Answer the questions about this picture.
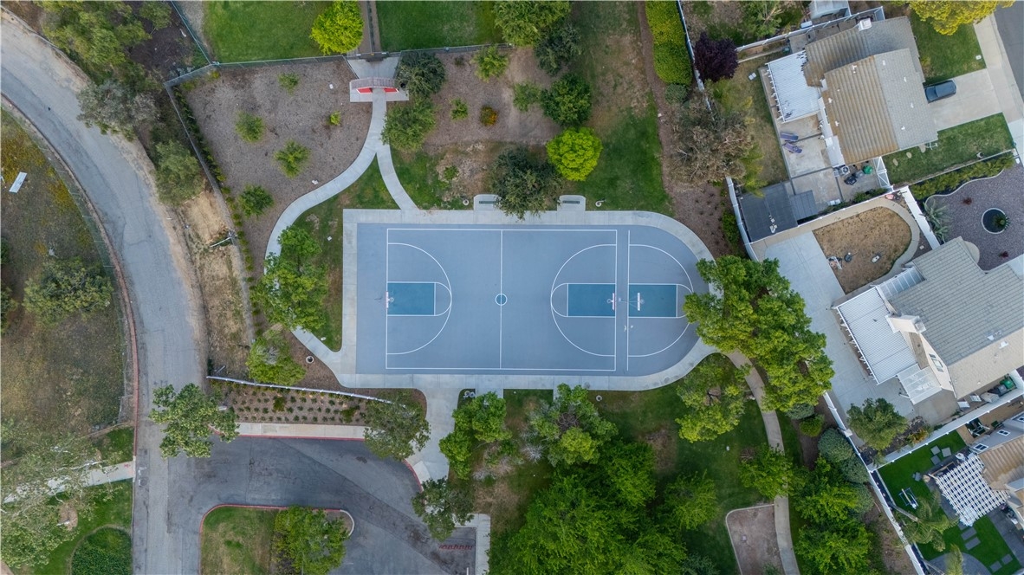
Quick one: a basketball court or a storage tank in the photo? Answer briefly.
basketball court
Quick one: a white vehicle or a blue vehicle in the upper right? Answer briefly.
blue vehicle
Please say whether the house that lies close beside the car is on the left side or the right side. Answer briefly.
right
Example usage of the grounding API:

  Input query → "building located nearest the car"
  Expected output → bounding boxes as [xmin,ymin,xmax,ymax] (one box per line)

[805,16,938,166]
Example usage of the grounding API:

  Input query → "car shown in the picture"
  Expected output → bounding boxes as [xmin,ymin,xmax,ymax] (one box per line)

[923,79,959,103]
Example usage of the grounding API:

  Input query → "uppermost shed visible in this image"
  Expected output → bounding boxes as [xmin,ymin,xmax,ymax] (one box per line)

[795,0,848,29]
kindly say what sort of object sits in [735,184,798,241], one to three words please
shed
